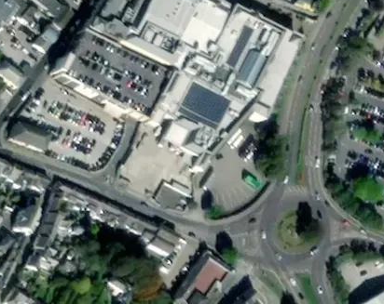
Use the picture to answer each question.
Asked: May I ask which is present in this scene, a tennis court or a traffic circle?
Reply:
traffic circle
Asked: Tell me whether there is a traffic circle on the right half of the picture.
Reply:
Yes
